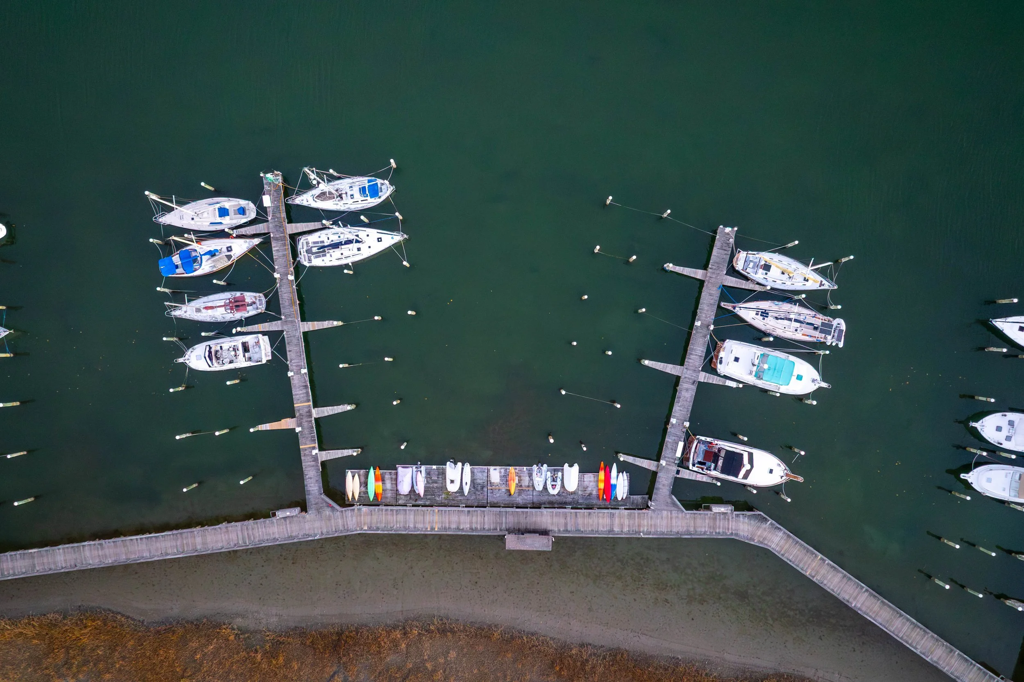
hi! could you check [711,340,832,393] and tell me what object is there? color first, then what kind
white boat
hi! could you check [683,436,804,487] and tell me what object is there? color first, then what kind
white boat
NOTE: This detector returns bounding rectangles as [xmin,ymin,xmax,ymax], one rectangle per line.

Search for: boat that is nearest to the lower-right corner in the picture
[960,463,1024,506]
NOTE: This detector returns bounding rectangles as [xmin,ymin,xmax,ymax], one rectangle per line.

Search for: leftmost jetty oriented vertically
[264,175,343,512]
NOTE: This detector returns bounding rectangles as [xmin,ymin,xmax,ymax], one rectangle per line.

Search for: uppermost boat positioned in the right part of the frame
[732,251,844,290]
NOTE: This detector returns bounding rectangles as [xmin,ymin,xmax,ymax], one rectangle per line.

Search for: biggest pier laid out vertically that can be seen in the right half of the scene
[649,228,736,510]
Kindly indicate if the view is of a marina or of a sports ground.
marina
